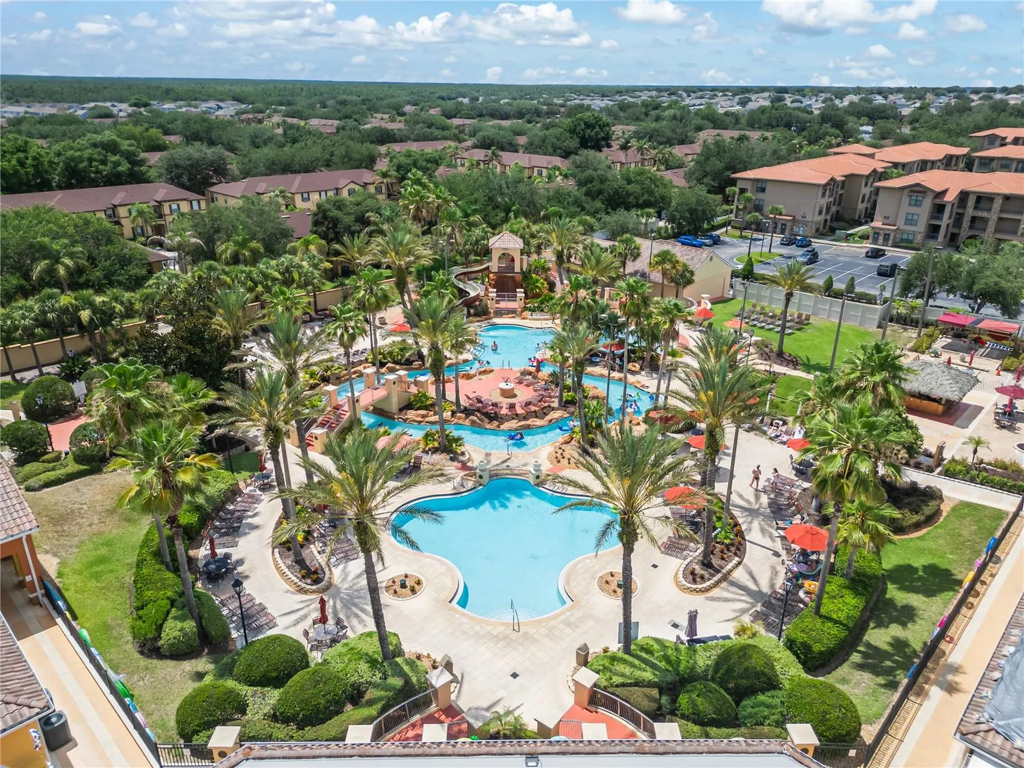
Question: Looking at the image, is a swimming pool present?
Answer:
Yes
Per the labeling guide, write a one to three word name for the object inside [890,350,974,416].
shed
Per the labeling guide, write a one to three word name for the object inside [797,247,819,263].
car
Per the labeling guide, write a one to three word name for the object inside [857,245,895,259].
car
